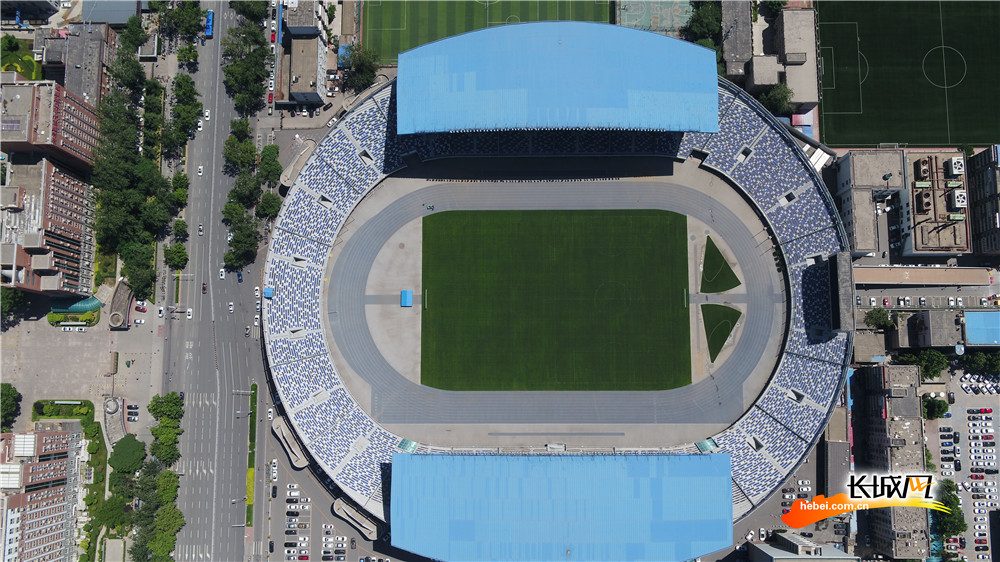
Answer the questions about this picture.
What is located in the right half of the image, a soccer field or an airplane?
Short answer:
soccer field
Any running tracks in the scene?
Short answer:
Yes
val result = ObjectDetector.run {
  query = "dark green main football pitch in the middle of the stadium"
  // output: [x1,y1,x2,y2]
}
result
[420,211,692,389]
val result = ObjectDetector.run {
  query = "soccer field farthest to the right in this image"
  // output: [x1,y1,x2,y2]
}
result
[820,0,1000,146]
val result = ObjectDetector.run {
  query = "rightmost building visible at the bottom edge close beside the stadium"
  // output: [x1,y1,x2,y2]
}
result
[868,414,932,558]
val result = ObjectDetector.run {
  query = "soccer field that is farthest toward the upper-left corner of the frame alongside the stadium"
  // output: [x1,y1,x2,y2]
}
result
[362,0,611,67]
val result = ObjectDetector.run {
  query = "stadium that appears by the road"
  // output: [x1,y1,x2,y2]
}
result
[263,21,854,562]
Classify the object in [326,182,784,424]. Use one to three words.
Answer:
running track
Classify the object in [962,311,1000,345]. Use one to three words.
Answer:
building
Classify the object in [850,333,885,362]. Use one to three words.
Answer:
shed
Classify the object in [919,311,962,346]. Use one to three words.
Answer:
house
